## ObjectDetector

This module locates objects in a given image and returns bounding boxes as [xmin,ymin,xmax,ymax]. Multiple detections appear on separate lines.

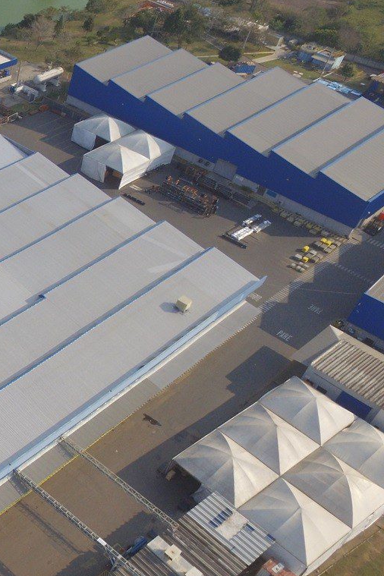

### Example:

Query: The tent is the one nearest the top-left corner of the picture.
[66,117,126,151]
